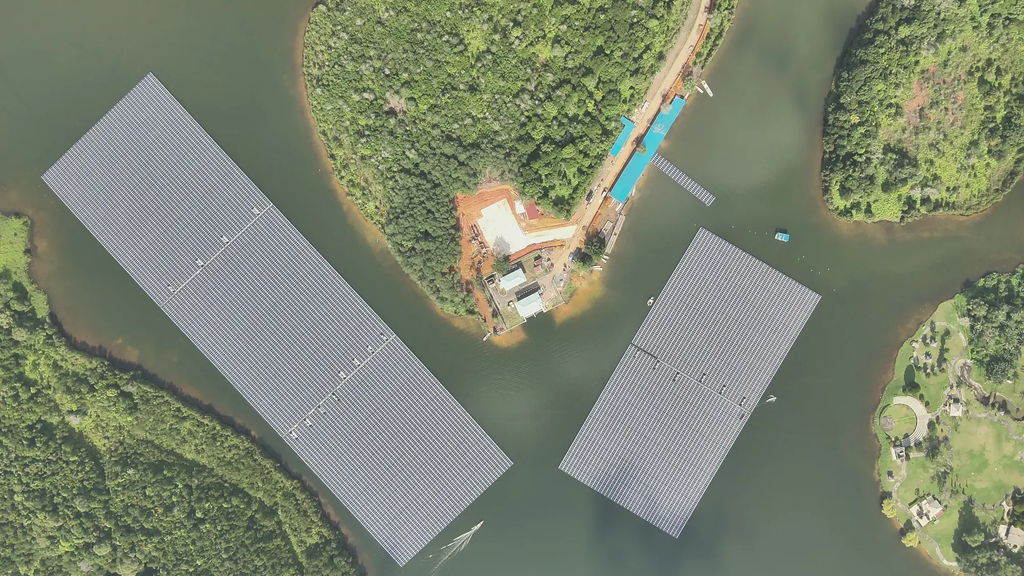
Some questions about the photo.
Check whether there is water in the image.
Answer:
Yes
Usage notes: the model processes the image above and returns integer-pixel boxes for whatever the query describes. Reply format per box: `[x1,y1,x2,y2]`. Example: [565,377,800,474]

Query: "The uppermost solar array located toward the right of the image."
[651,152,716,206]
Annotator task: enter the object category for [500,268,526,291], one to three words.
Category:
building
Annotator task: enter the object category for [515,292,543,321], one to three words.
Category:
building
